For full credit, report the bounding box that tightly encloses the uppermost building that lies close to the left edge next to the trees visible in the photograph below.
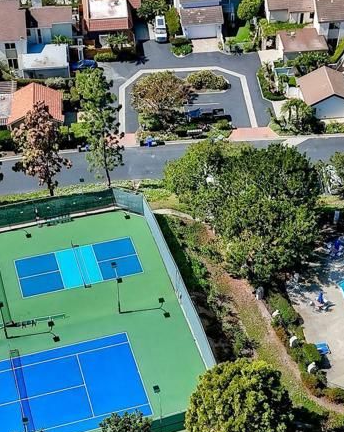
[0,0,75,89]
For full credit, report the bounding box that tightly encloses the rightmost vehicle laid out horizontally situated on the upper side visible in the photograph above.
[197,106,237,123]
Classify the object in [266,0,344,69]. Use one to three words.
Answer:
house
